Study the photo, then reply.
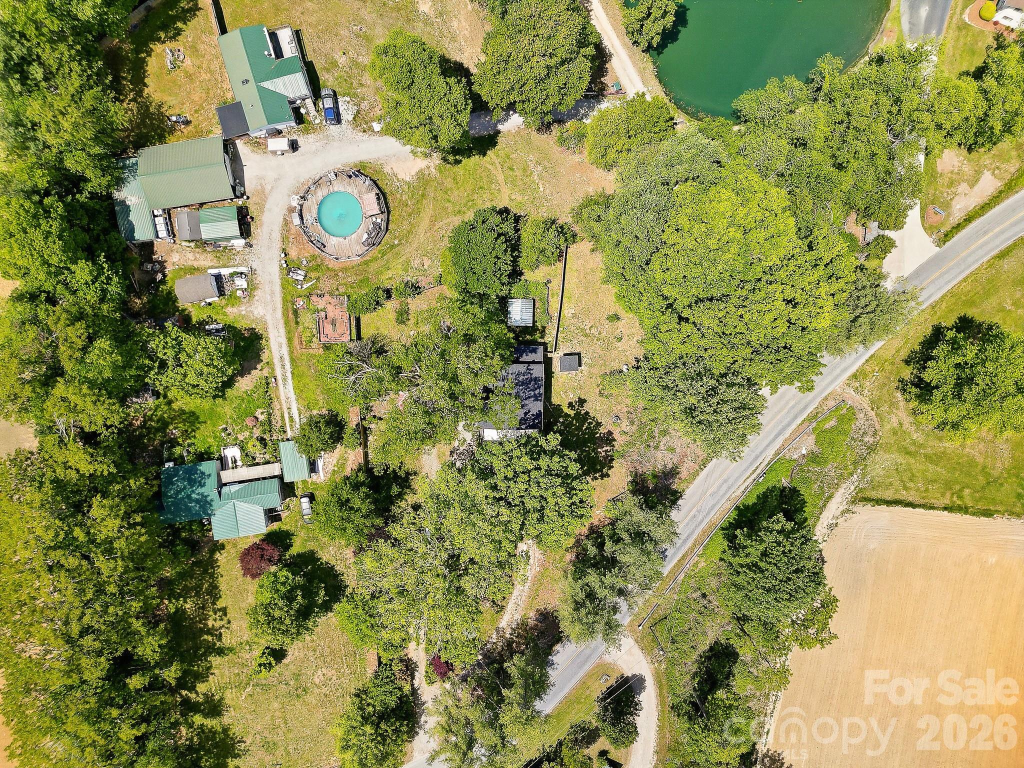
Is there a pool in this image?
Yes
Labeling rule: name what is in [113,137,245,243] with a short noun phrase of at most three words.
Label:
barn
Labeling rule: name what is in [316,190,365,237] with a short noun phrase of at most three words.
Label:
swimming pool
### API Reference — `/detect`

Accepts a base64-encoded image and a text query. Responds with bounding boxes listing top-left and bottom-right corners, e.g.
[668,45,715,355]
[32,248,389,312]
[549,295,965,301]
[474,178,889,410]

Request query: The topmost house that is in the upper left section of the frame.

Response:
[216,22,318,143]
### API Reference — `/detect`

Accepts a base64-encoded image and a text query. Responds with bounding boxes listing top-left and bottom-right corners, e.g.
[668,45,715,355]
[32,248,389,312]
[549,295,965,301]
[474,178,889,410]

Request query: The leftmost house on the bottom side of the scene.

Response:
[162,460,288,540]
